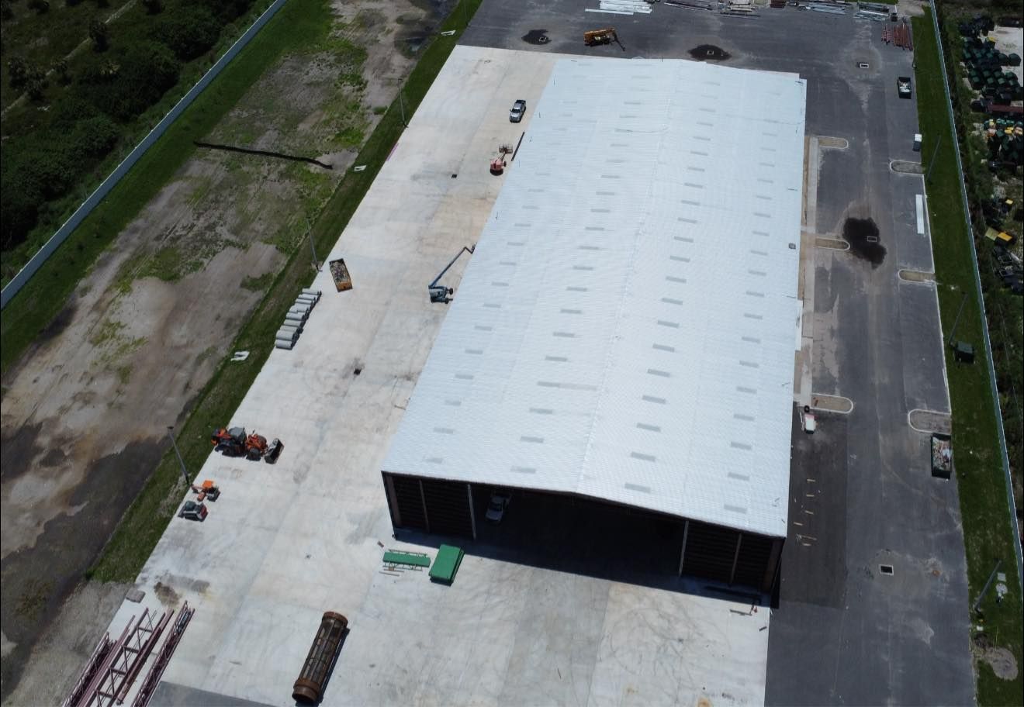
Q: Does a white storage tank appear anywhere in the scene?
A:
No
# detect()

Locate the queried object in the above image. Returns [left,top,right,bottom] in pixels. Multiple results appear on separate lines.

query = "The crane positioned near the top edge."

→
[585,23,625,49]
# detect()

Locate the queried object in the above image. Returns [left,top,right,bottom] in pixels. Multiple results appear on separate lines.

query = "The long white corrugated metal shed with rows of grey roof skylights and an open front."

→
[380,59,807,591]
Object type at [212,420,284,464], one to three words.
work vehicle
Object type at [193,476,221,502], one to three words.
work vehicle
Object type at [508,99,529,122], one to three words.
truck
